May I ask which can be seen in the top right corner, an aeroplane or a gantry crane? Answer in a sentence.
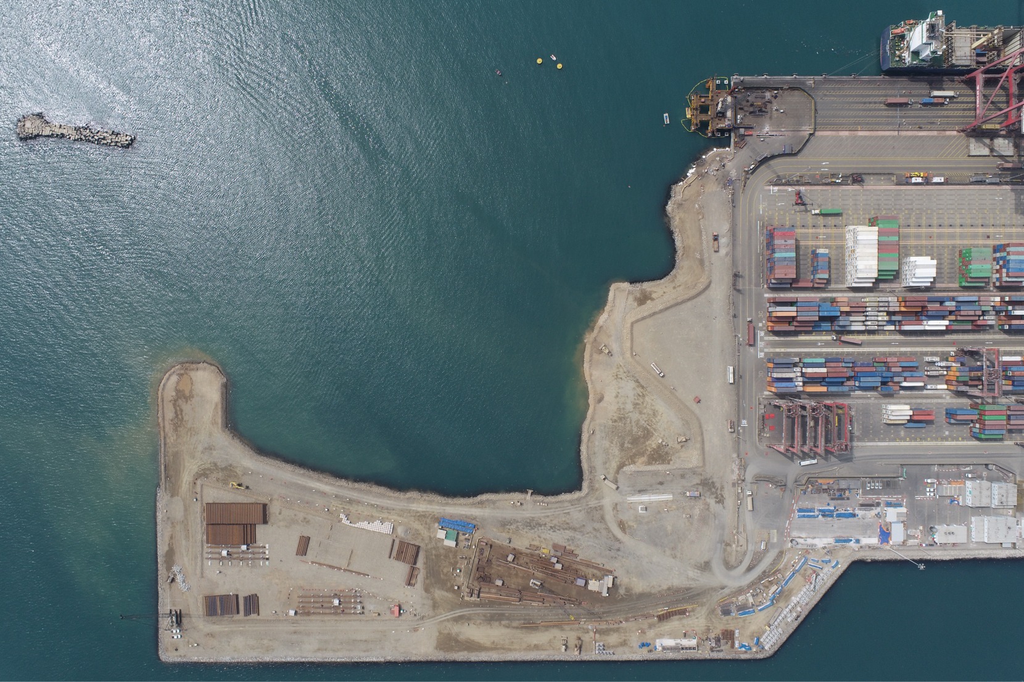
The one visible in the top right corner is a gantry crane.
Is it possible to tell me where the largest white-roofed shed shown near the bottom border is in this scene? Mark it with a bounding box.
[655,635,697,651]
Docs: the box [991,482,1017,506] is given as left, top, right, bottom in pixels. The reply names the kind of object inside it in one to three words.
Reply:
building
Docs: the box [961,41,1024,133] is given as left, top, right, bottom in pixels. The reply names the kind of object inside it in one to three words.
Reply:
container crane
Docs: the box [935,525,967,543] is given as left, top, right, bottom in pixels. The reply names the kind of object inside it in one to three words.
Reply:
building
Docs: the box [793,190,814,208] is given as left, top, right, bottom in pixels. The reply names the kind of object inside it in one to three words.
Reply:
work vehicle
